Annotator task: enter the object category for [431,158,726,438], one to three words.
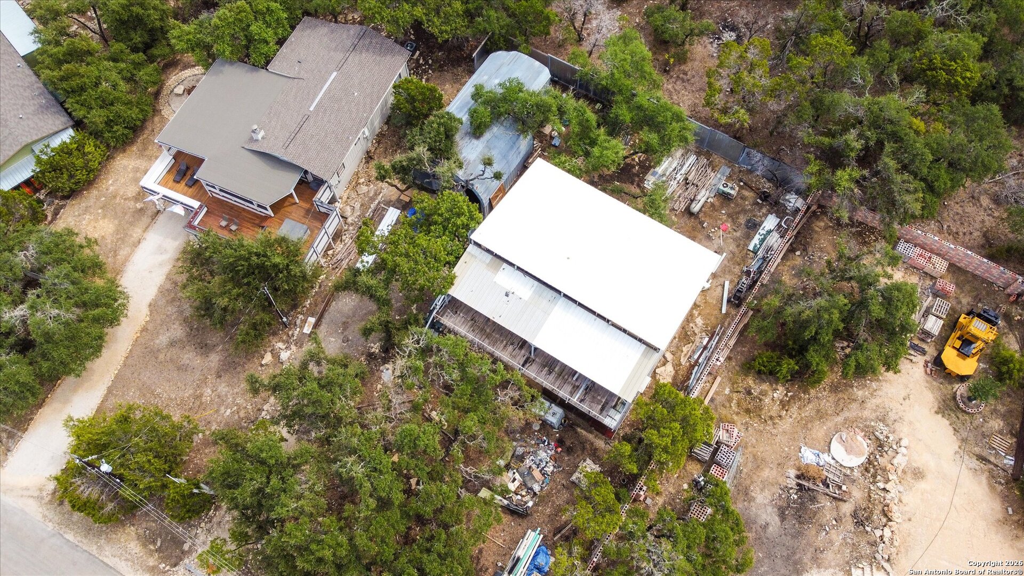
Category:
building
